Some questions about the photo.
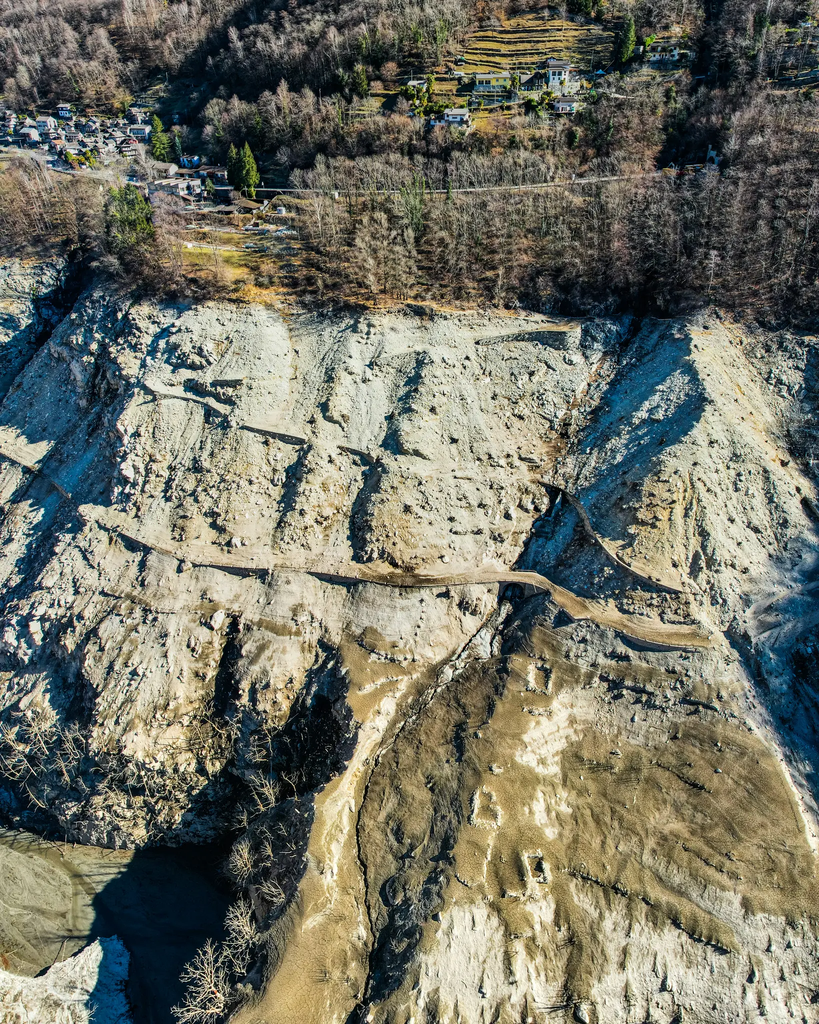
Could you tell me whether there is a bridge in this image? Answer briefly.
Yes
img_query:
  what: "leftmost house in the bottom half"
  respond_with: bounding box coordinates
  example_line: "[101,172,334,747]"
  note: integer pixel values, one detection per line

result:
[471,783,508,836]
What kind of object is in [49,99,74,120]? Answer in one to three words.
house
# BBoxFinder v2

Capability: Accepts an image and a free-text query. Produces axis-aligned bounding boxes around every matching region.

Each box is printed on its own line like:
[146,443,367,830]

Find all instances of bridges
[484,566,543,607]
